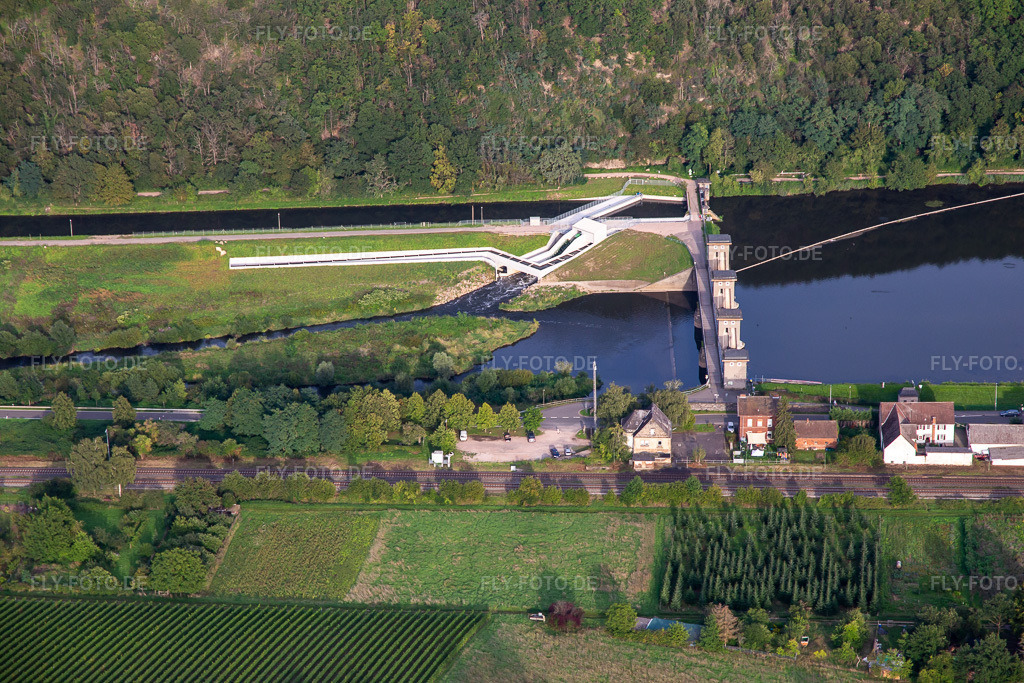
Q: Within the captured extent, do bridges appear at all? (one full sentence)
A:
Yes, there is a bridge in the image.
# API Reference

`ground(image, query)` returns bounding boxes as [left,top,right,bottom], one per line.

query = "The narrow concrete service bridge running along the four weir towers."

[693,247,722,387]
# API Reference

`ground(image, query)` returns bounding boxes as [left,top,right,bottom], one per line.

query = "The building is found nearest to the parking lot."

[620,402,674,470]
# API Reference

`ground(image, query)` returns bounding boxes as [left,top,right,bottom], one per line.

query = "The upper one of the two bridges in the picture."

[550,196,642,234]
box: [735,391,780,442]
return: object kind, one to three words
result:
house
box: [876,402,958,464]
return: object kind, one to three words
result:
house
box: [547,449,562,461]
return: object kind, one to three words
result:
vehicle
